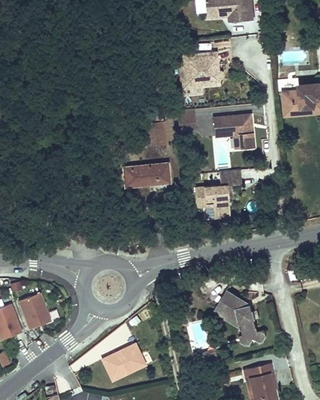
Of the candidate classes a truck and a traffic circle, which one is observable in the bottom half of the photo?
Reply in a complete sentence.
Visible in the bottom half of the photo is a traffic circle.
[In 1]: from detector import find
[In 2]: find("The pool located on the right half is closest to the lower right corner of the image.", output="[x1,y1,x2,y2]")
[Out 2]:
[188,320,208,350]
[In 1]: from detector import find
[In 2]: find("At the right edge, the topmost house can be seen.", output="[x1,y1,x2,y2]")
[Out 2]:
[282,82,320,118]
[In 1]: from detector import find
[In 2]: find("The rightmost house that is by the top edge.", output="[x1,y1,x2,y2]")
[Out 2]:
[208,0,256,23]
